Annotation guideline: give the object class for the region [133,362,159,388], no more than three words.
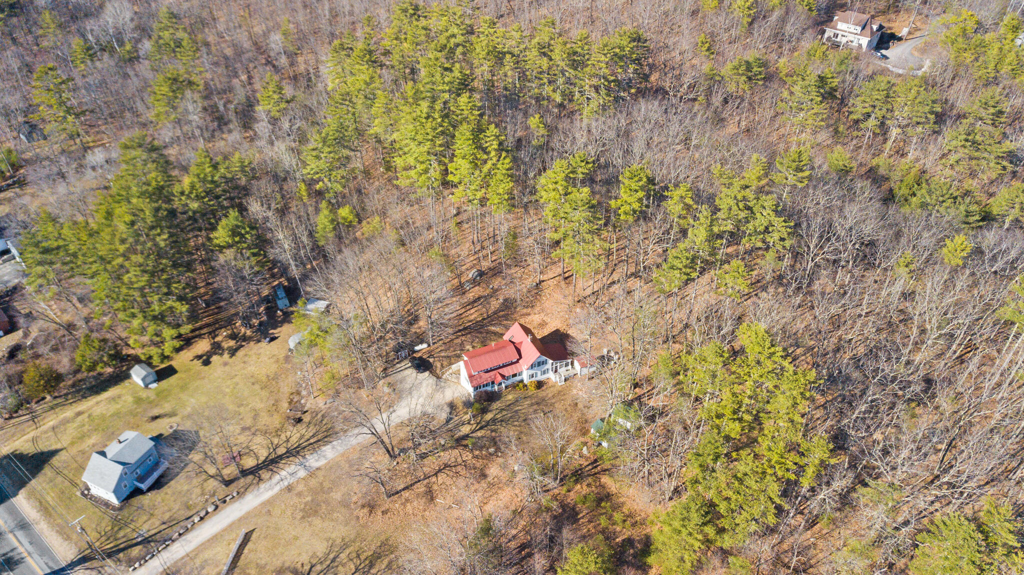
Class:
shed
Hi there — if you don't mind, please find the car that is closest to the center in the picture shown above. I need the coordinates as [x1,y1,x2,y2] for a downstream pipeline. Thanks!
[412,354,429,372]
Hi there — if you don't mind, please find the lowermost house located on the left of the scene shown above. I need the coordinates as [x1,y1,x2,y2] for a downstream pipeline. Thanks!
[83,429,169,503]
